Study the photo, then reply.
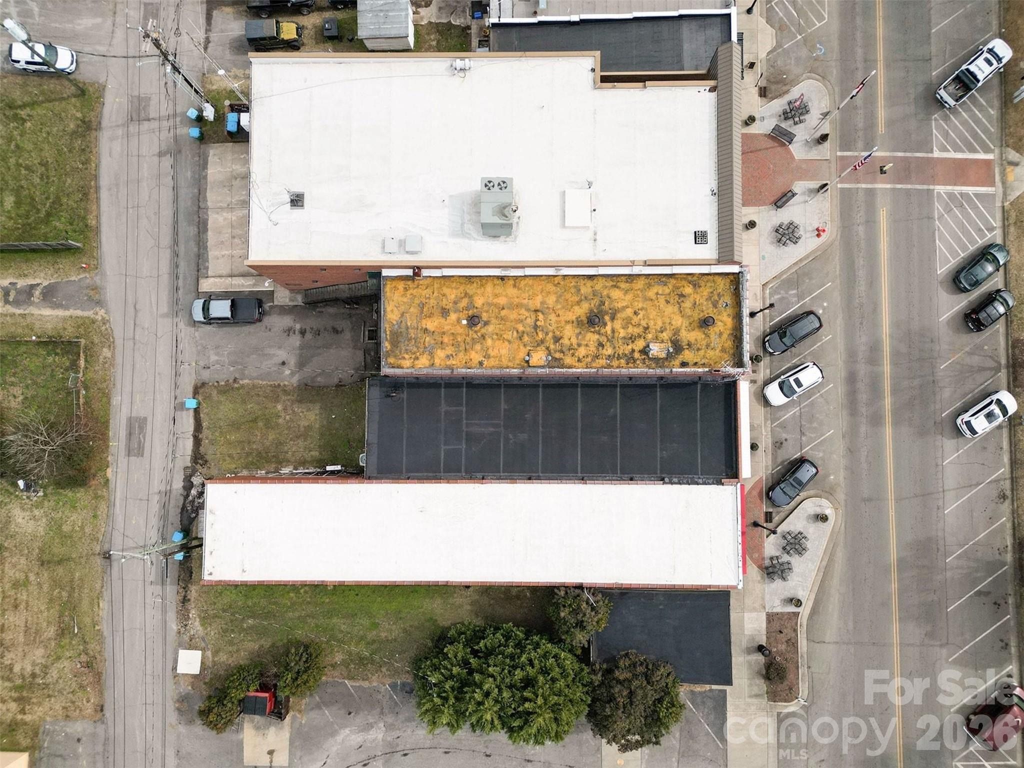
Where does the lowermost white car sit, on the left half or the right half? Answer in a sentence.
The lowermost white car is on the right side of the image.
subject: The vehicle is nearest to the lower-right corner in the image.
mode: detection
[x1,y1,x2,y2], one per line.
[970,683,1024,749]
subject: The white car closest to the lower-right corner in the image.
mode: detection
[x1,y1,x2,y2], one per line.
[950,390,1015,439]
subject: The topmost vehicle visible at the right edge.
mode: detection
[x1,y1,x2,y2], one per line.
[934,43,1008,108]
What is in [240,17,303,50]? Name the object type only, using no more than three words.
car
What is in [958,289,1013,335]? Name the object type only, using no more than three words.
car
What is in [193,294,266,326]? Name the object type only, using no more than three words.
truck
